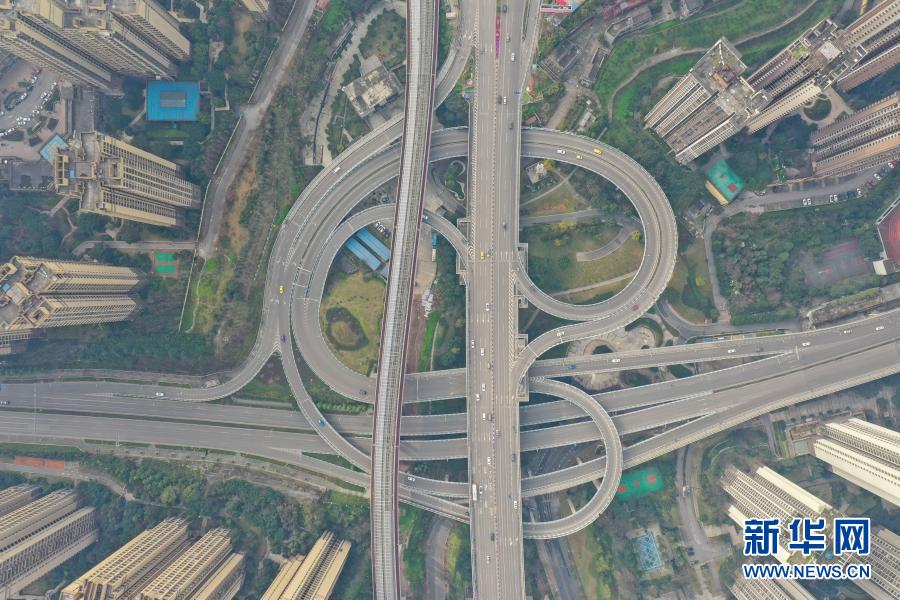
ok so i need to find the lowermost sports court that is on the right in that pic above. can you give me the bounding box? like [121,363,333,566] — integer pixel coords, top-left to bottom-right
[616,466,665,502]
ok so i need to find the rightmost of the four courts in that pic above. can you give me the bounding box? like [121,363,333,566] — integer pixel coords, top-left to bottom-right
[806,240,866,284]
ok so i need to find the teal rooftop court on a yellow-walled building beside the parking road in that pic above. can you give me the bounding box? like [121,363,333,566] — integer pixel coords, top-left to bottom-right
[702,158,744,205]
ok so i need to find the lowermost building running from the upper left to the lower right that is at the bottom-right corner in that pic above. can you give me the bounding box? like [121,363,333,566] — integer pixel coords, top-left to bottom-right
[722,466,860,582]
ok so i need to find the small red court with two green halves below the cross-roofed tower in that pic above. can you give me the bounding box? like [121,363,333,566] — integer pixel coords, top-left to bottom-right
[152,250,178,277]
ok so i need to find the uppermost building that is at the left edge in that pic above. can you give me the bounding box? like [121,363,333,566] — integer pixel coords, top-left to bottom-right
[0,0,190,90]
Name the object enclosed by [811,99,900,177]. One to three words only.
building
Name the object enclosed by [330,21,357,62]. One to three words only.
shed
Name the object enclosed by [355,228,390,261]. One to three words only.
shed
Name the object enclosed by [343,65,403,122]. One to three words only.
building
